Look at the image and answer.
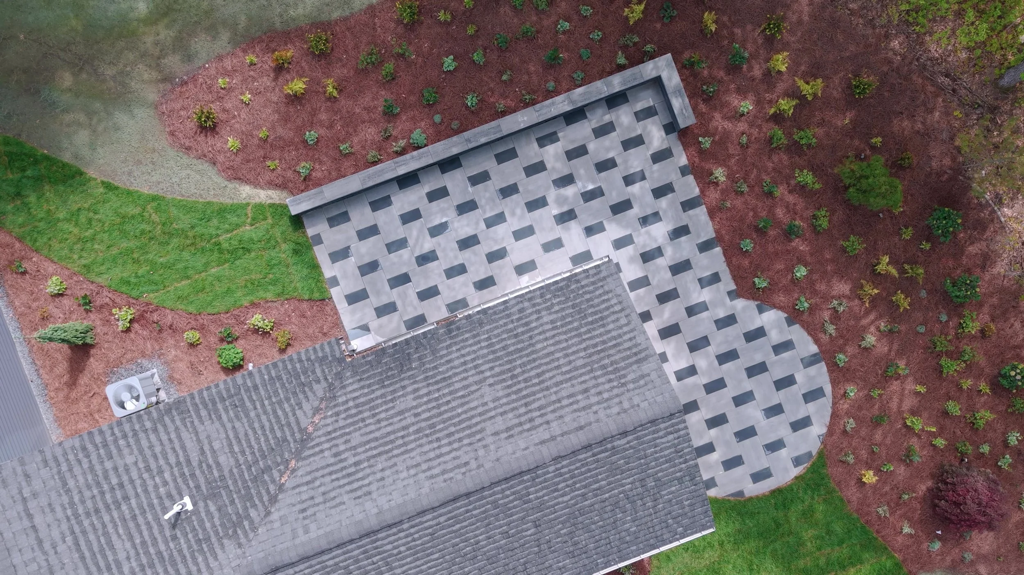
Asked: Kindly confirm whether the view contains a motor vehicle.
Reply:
No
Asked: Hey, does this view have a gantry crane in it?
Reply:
No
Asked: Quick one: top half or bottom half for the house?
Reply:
bottom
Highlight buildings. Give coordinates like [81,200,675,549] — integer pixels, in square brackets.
[0,256,715,575]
